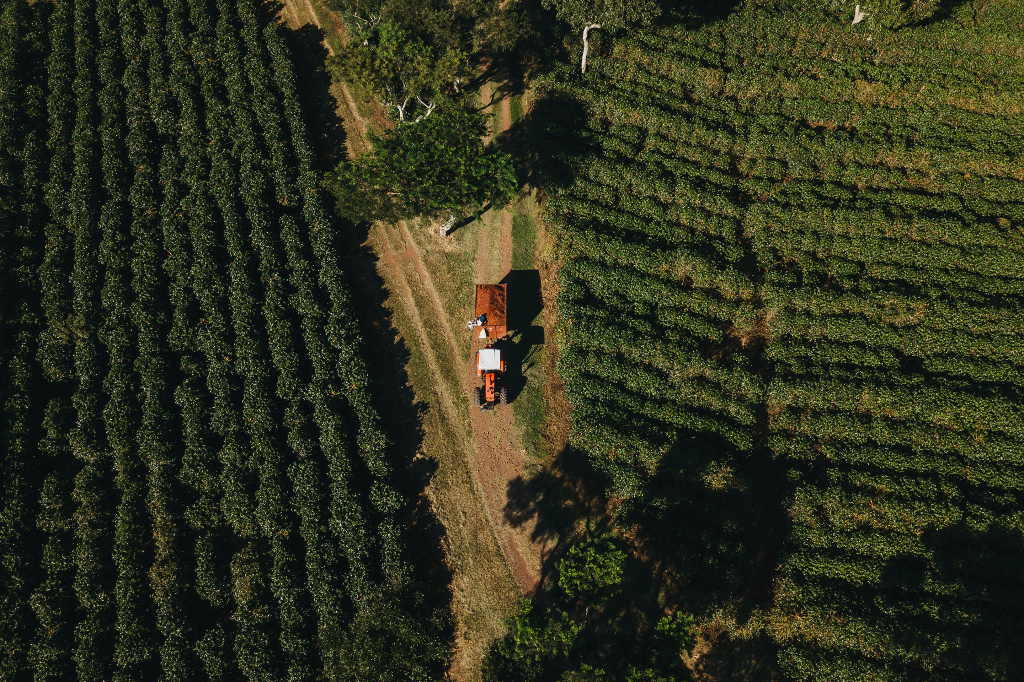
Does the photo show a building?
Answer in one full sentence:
No, I can't see a single building in this photo.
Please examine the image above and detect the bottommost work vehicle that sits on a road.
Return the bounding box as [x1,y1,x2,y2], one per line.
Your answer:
[474,349,507,411]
